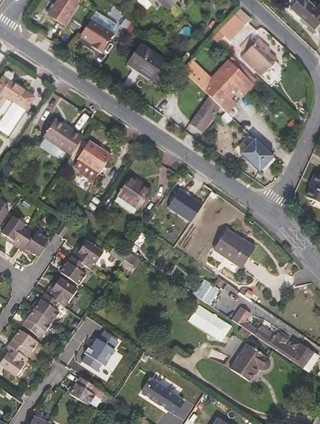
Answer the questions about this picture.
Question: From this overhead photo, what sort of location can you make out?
residential area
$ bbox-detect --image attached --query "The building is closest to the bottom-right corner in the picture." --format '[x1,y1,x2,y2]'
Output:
[282,342,319,372]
